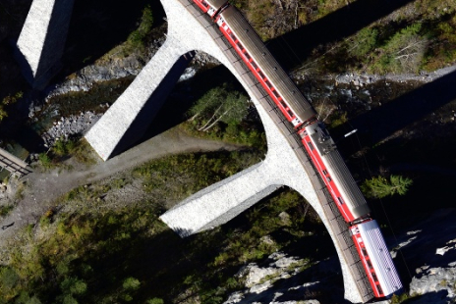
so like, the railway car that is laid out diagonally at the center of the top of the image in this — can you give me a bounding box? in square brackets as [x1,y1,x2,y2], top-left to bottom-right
[211,2,317,130]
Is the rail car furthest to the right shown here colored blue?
No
